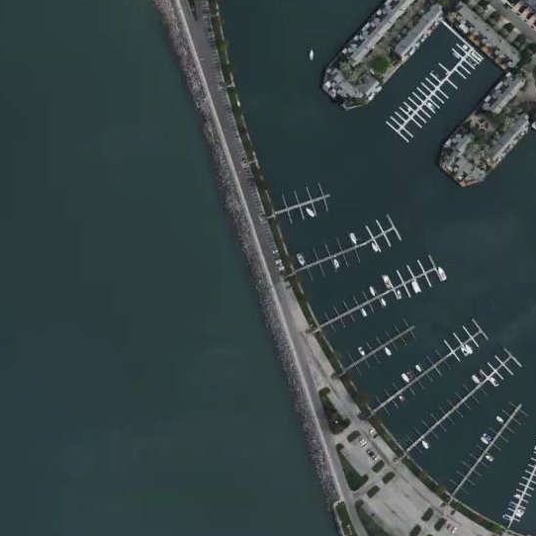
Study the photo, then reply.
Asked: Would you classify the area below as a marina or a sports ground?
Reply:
marina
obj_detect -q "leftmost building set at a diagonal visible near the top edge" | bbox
[336,0,411,66]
